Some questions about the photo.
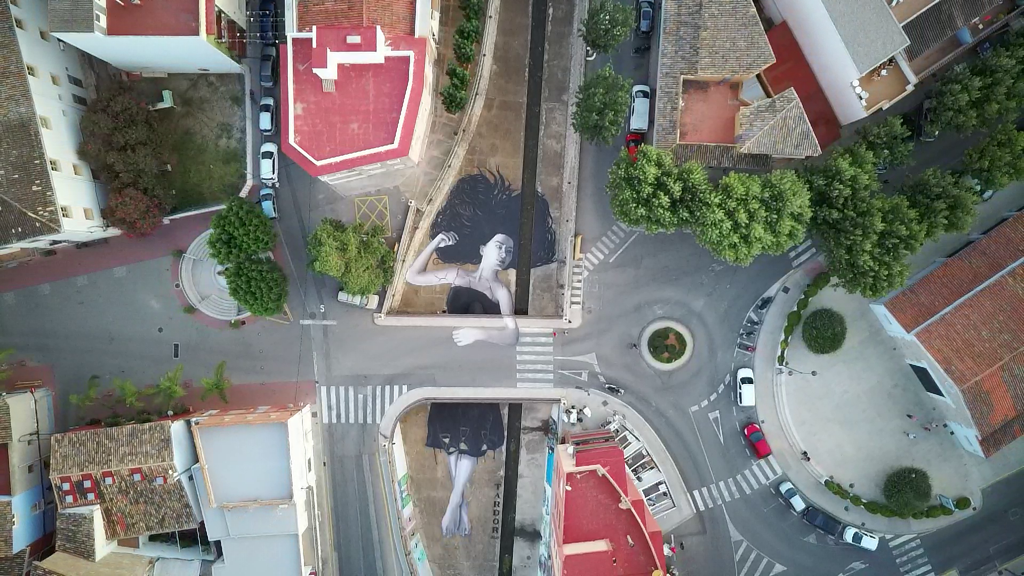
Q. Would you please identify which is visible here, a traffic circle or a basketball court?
traffic circle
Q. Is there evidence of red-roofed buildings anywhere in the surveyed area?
Yes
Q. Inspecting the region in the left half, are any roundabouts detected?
No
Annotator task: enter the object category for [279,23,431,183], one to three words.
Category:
house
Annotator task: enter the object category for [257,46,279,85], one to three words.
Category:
car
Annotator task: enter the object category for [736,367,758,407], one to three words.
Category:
car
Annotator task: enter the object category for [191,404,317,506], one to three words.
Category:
house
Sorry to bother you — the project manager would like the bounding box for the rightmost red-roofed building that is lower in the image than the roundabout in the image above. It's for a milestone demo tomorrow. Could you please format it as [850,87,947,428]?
[553,419,666,576]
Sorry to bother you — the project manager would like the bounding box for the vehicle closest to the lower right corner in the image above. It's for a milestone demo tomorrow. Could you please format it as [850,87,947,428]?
[841,524,882,552]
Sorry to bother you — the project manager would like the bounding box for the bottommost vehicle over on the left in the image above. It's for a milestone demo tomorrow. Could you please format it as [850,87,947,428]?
[335,287,379,311]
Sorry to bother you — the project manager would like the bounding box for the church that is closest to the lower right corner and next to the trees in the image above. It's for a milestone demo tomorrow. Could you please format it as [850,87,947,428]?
[870,198,1024,460]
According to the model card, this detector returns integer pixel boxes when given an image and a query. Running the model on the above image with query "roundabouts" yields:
[640,317,694,371]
